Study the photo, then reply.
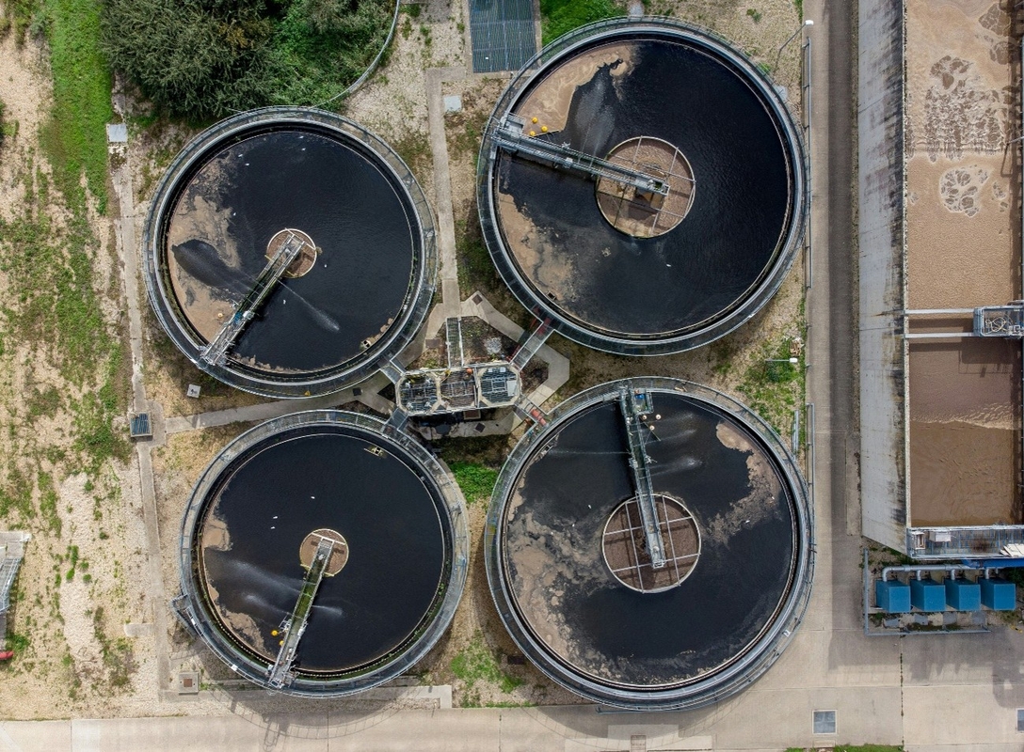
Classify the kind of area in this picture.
industrial area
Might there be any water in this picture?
Yes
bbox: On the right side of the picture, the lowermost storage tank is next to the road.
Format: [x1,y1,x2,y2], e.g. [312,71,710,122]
[484,377,816,709]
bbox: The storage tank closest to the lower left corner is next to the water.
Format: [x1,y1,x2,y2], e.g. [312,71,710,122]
[180,410,469,698]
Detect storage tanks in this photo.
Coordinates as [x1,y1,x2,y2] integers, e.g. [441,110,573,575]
[484,377,816,709]
[180,410,469,698]
[477,19,811,354]
[144,106,436,397]
[857,0,1022,556]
